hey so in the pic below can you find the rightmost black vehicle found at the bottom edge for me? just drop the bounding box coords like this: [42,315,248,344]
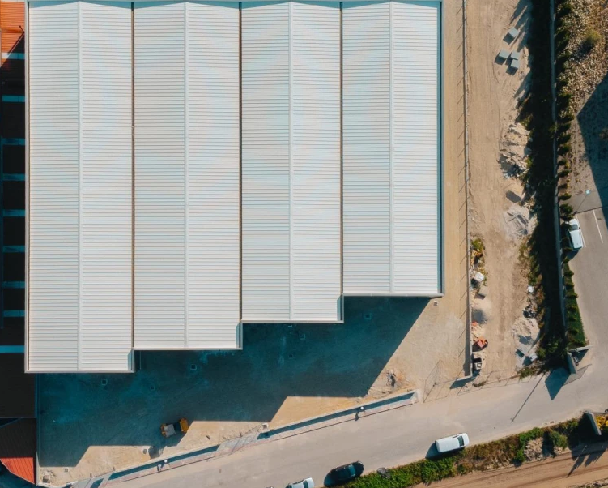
[326,462,364,485]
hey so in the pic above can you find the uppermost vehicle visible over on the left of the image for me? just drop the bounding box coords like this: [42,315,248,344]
[162,415,191,436]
